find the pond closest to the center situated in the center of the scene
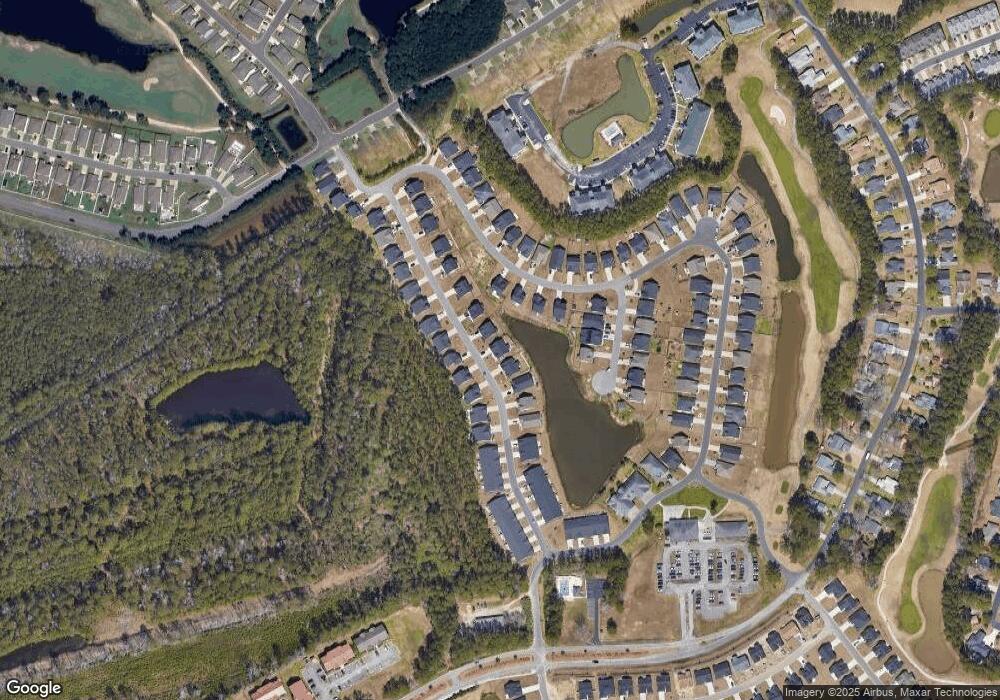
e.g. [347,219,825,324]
[502,315,644,509]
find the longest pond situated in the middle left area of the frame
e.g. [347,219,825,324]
[157,361,312,431]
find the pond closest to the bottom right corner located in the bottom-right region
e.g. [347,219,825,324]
[911,569,956,674]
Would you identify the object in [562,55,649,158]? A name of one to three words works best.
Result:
pond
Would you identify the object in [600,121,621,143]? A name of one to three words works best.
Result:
swimming pool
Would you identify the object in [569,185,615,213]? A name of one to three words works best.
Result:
building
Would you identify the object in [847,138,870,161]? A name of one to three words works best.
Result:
house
